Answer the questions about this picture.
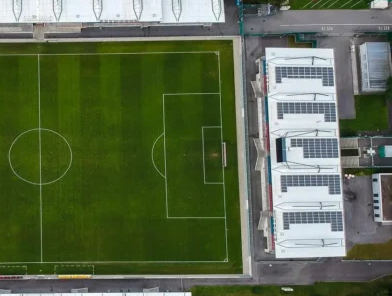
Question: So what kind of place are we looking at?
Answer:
sports ground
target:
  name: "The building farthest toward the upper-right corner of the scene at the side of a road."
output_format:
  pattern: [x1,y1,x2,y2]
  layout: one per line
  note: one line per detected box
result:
[355,42,392,95]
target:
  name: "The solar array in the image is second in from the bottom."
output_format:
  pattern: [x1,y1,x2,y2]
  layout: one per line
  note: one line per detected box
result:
[281,175,340,194]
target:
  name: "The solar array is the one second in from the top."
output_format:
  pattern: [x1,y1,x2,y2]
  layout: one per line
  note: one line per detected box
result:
[278,103,336,122]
